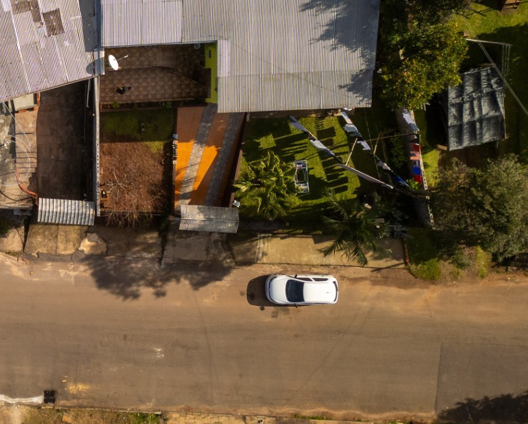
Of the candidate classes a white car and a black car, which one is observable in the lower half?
white car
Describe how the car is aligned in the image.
from side to side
